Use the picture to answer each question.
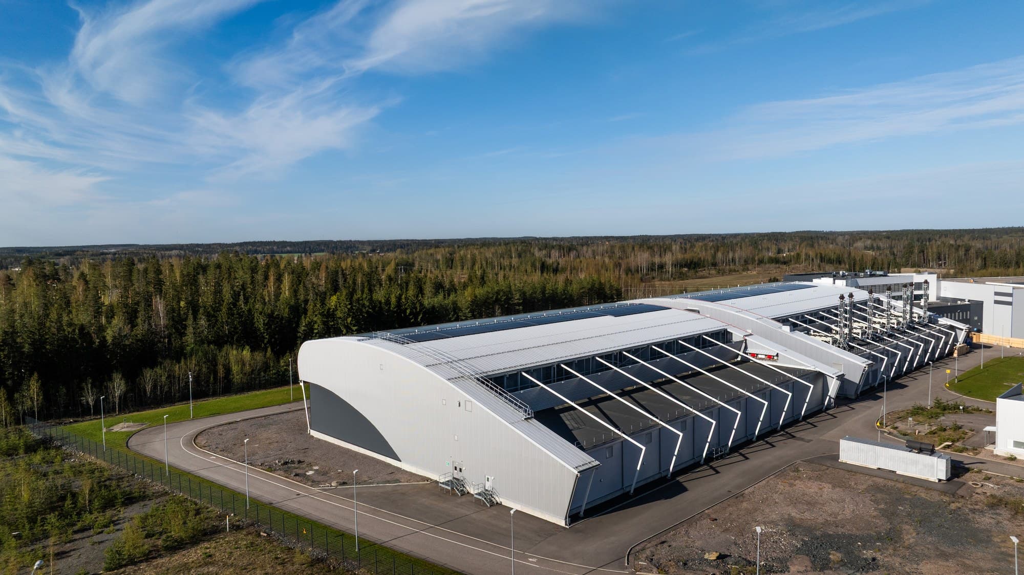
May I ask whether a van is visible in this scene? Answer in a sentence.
No, no van is visible in the scene.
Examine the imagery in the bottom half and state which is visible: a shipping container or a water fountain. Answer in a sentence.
It is a shipping container that can be seen in the bottom half.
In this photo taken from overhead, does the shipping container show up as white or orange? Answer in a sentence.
The shipping container is white.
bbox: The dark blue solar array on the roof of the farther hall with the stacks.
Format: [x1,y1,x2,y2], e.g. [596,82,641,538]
[691,285,825,302]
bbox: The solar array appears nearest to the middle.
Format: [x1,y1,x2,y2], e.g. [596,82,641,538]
[396,305,672,341]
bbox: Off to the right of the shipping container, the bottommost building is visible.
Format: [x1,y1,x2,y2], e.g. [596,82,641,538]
[978,369,1024,459]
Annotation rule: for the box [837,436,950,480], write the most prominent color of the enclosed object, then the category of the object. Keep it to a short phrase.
white shipping container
